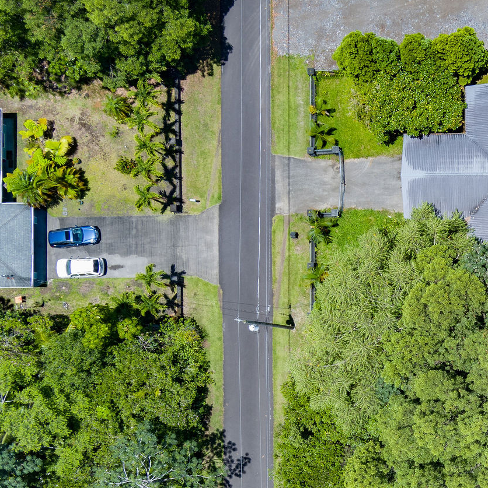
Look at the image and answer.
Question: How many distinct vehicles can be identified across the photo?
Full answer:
The photo contains 2 vehicles.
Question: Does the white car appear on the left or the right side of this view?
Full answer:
The white car is on the left side of the image.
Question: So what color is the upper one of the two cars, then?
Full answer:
From above, the upper one of the two cars appears blue.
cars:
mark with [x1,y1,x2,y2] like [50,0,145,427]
[48,223,104,250]
[58,256,110,279]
